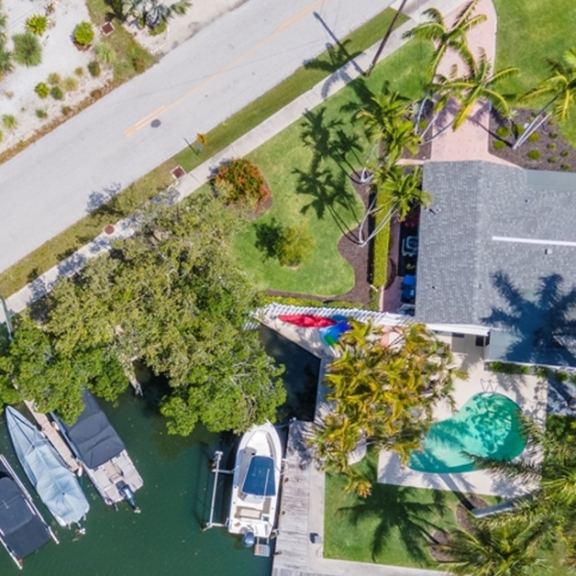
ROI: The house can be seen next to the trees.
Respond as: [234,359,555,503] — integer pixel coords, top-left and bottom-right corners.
[405,161,576,387]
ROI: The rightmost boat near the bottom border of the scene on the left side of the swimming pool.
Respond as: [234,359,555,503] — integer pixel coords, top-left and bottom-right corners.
[228,422,284,556]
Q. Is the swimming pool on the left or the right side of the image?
right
